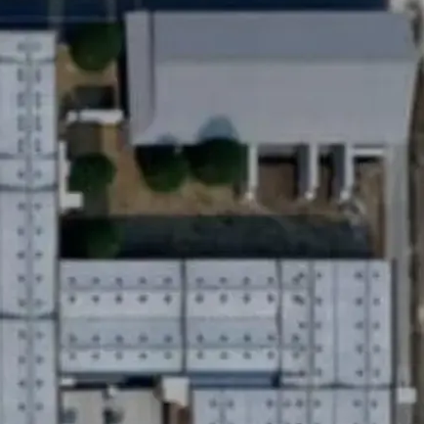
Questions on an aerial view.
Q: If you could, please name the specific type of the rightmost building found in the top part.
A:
warehouse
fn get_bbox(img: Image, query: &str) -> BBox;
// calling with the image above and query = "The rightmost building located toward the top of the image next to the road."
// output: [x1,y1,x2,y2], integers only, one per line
[118,11,413,198]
